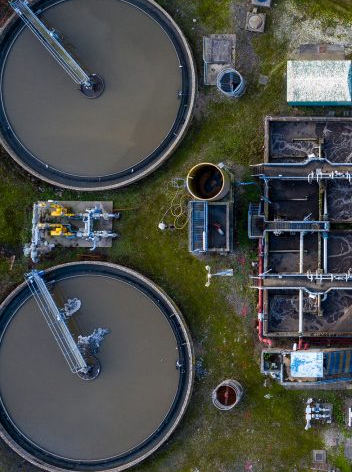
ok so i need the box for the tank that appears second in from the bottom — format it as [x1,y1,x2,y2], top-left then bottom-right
[188,201,234,257]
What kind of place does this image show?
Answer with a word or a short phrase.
industrial area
